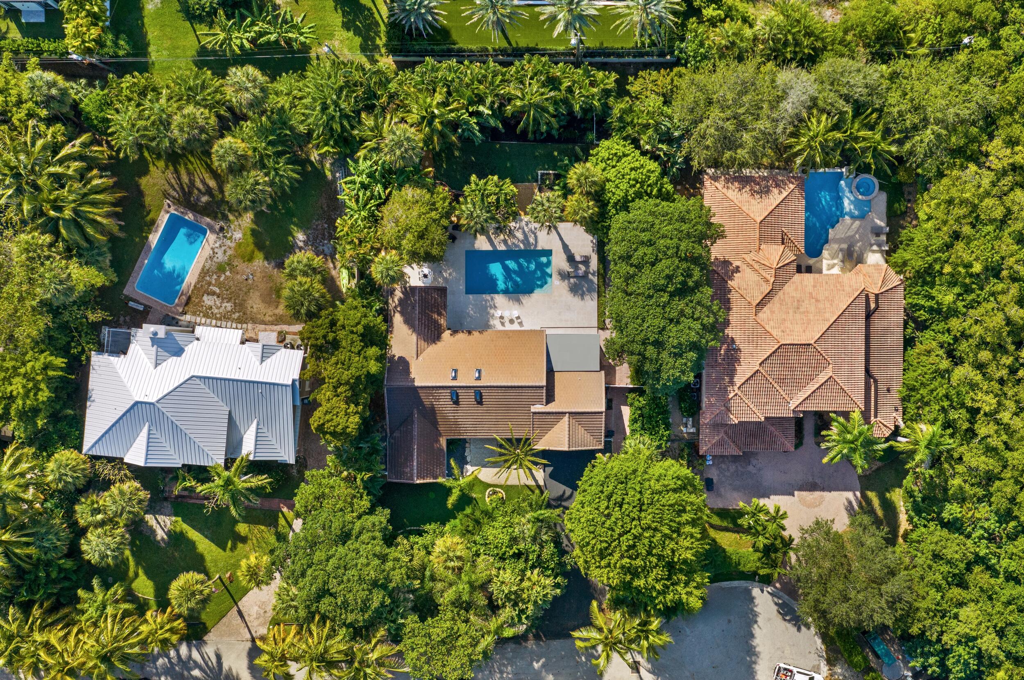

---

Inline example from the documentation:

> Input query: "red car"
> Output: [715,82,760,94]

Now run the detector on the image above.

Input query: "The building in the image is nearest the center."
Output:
[385,287,606,484]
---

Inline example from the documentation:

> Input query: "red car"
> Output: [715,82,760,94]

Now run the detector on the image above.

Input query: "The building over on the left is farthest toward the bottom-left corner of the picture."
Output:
[82,323,311,467]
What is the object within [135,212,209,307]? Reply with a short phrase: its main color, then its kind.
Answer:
blue swimming pool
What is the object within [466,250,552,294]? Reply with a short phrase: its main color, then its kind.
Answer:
blue swimming pool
